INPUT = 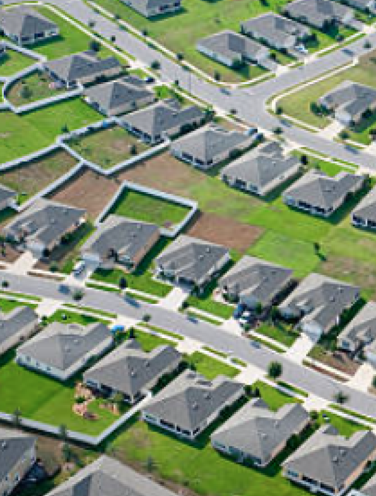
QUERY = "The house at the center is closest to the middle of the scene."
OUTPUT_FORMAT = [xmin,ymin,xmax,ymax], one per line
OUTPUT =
[144,234,229,294]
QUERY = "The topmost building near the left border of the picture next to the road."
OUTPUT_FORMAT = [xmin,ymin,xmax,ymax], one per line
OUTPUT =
[5,6,58,44]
